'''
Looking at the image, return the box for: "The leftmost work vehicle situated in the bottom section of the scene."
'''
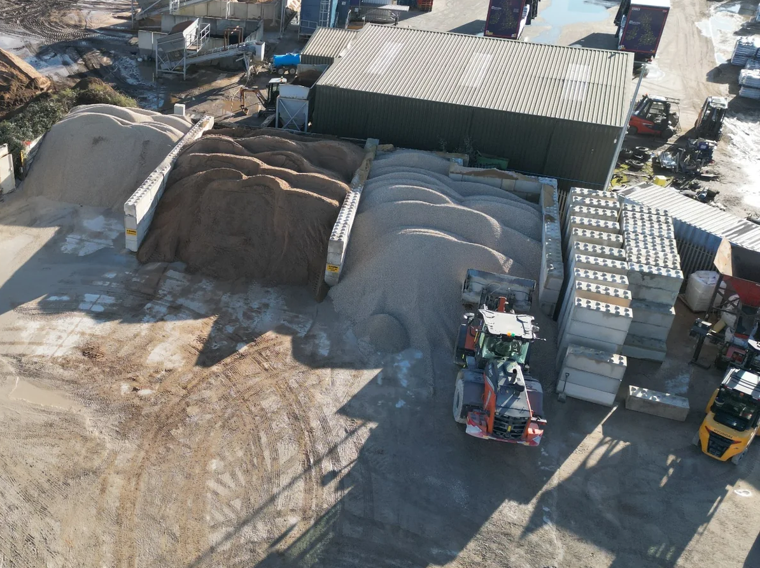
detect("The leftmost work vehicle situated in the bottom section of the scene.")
[462,272,556,448]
